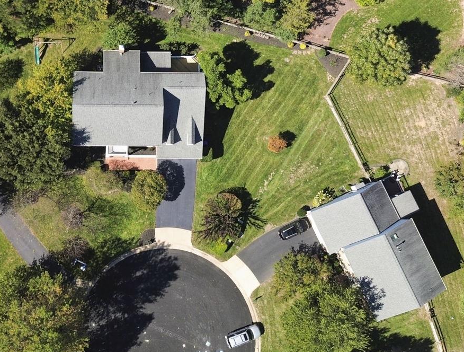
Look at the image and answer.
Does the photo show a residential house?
Yes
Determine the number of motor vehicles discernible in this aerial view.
two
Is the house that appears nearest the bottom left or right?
right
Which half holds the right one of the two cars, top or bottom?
bottom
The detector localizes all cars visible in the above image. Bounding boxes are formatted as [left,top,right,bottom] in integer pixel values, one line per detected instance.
[226,325,263,348]
[276,218,311,241]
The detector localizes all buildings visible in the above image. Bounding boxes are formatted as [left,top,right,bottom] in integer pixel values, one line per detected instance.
[302,175,447,321]
[72,46,207,160]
